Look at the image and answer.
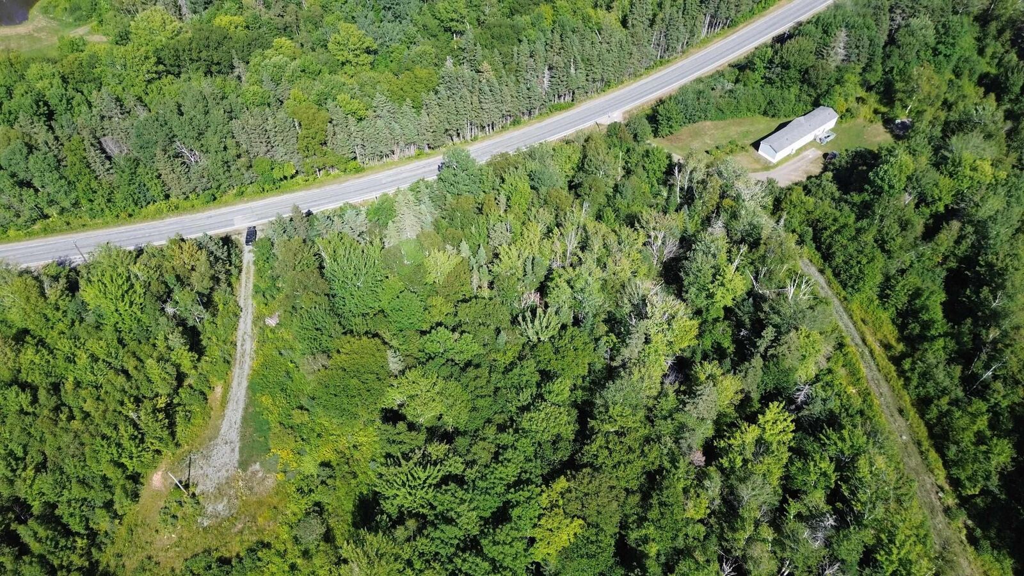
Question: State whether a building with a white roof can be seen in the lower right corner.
No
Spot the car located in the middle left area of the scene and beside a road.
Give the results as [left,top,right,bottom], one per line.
[242,226,256,244]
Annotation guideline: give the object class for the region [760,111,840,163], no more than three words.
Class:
house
